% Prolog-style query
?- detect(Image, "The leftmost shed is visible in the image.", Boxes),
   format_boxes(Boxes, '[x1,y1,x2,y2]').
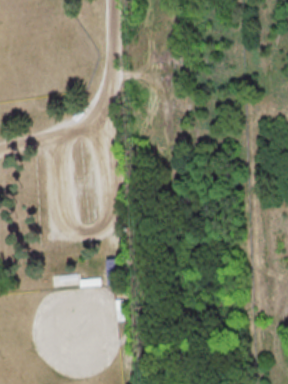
[52,274,80,288]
